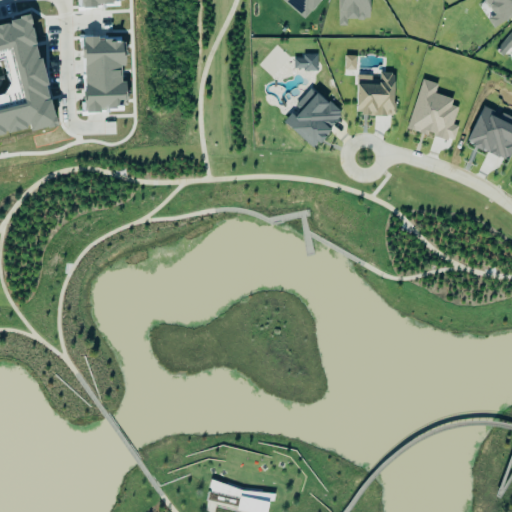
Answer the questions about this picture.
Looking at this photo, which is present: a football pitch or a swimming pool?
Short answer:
swimming pool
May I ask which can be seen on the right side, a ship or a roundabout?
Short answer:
roundabout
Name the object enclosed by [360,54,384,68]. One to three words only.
swimming pool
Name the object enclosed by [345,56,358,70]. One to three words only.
gazebo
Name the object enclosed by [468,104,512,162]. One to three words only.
house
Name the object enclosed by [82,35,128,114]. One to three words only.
building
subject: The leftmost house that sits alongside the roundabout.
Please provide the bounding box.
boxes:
[288,84,342,146]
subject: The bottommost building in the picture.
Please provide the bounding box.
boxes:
[208,480,276,512]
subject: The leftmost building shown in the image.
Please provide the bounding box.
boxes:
[0,12,57,140]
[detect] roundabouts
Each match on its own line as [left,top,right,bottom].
[340,132,390,182]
